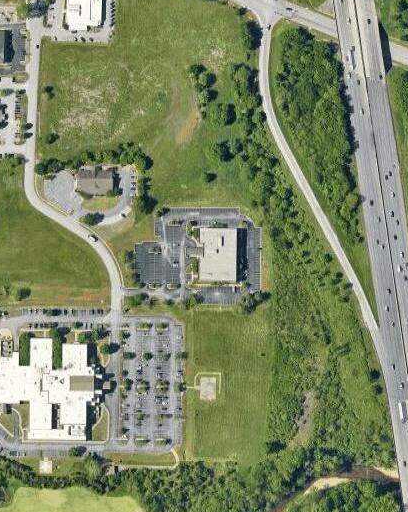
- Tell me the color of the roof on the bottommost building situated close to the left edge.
white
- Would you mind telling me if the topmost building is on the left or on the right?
left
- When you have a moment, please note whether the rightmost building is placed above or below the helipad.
above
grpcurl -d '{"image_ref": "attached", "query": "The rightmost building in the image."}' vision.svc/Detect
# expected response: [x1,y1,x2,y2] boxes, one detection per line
[199,228,238,281]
